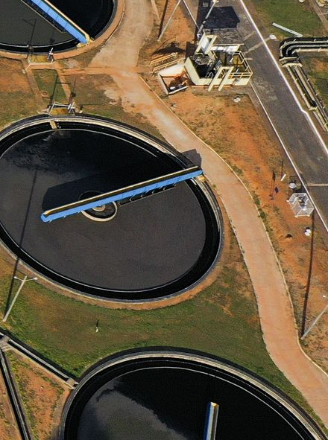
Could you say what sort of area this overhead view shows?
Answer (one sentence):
This looks like an industrial area.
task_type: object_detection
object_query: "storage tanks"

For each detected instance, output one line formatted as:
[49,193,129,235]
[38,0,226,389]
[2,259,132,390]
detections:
[0,114,229,310]
[52,348,328,440]
[0,0,122,59]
